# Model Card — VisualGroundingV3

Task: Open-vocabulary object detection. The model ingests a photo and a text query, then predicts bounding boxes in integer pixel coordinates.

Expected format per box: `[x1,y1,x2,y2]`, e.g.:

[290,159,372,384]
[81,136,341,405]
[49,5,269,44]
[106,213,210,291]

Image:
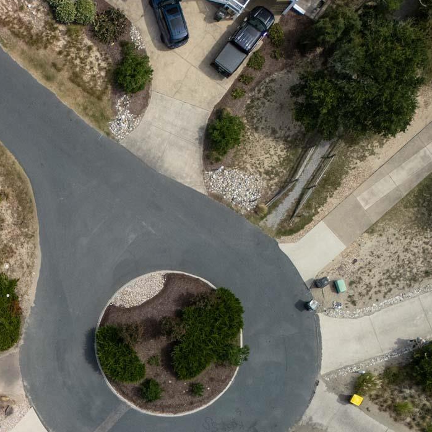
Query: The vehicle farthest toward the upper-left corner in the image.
[149,0,188,53]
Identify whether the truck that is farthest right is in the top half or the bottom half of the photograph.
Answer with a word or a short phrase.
top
